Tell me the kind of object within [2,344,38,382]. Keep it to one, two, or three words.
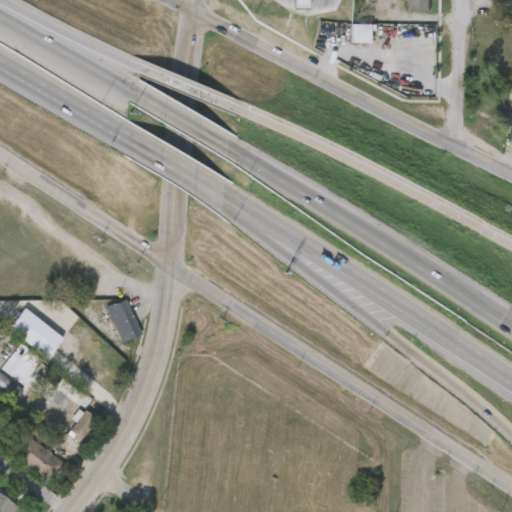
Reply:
house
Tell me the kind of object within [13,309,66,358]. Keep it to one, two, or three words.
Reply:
building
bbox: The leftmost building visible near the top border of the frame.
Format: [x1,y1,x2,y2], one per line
[352,24,372,44]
